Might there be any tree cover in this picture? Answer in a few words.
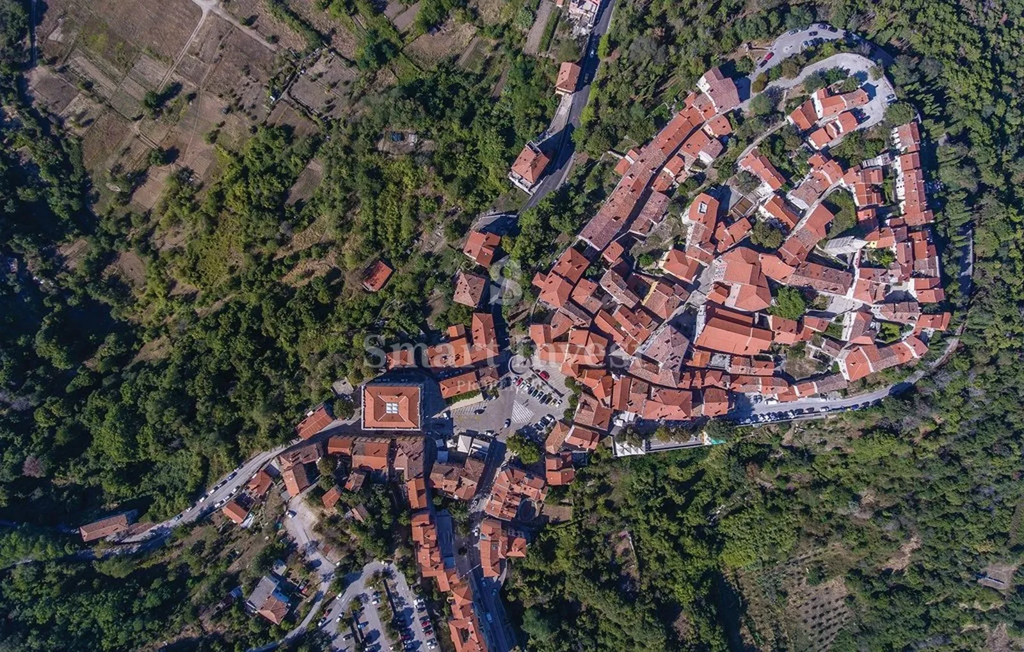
Yes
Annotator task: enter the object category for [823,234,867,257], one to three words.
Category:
building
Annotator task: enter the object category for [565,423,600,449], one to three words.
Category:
house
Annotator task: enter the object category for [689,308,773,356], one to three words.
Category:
building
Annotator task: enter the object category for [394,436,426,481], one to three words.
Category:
house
